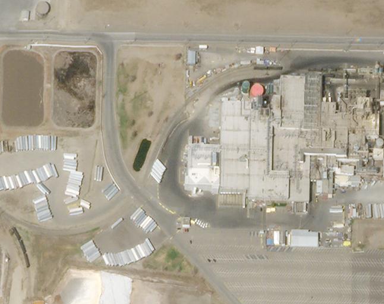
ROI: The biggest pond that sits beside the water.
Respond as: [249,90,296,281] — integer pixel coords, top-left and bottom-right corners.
[1,51,45,126]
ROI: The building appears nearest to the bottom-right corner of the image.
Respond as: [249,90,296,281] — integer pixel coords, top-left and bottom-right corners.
[290,230,319,249]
